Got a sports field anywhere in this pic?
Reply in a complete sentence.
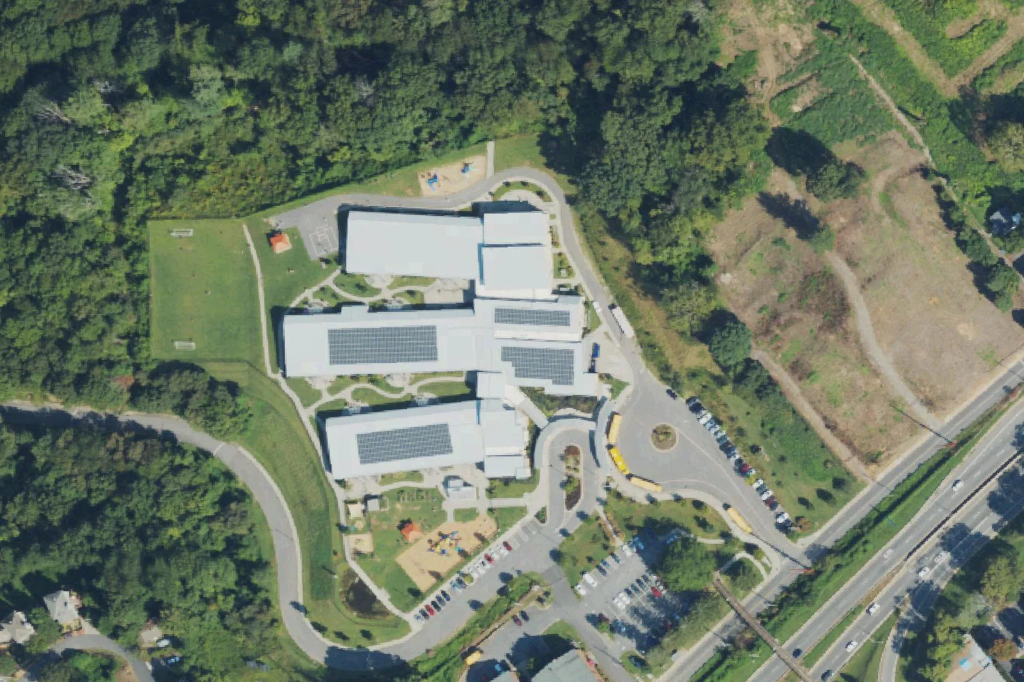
Yes, a sports field is visible in the scene.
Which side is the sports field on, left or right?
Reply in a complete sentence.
It is on the left.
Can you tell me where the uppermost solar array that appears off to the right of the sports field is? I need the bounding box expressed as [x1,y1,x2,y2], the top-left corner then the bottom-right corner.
[495,307,570,326]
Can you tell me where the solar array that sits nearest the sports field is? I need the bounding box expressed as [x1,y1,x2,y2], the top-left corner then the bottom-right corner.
[328,326,438,364]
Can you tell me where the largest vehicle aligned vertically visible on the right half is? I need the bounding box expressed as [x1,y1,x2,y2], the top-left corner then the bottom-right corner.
[608,413,621,443]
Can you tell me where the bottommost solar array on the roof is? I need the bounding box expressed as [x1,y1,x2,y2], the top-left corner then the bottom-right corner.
[357,423,453,464]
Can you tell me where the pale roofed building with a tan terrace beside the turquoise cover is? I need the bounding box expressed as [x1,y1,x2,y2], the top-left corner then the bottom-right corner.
[949,634,1011,682]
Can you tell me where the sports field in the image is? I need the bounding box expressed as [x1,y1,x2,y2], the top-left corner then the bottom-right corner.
[151,219,261,359]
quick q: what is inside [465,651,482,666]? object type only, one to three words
vehicle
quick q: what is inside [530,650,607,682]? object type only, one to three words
building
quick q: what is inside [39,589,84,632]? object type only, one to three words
house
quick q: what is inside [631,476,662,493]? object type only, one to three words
vehicle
